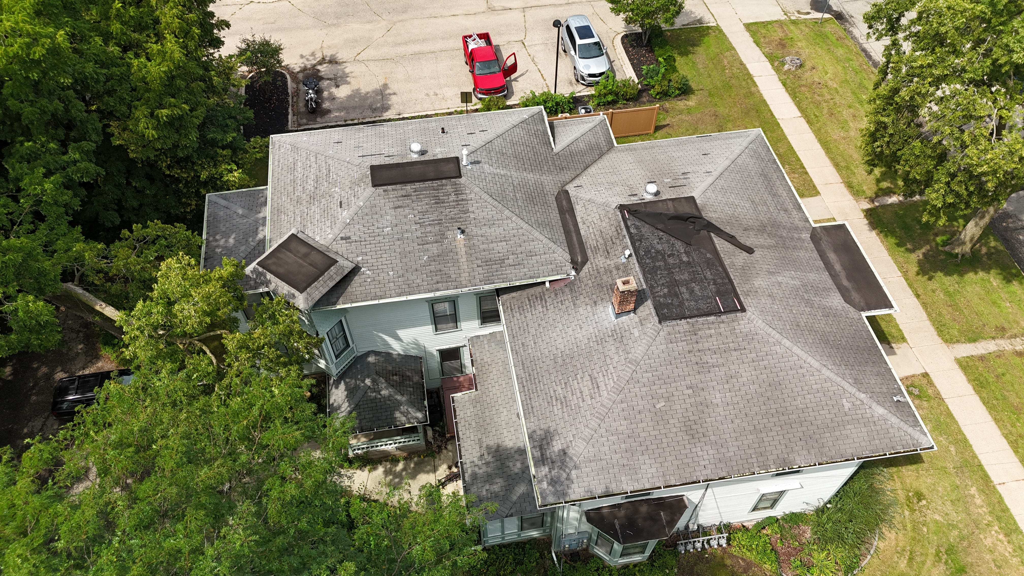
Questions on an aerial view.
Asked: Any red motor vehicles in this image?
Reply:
Yes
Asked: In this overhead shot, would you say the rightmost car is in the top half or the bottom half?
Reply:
top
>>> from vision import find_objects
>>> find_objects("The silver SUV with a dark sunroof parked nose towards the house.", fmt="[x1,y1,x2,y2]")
[562,19,615,87]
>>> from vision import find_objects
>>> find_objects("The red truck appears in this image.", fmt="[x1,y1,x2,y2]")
[463,36,521,103]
